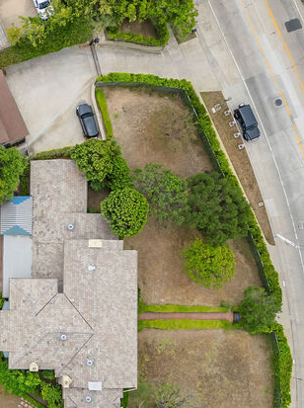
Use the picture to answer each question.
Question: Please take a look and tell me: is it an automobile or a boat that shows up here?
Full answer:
The image shows an automobile.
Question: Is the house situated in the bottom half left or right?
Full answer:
The house situated in the bottom half is on the left side of the image.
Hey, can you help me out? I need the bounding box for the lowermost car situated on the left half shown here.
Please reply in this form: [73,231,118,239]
[77,101,101,140]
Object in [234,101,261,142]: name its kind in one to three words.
car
